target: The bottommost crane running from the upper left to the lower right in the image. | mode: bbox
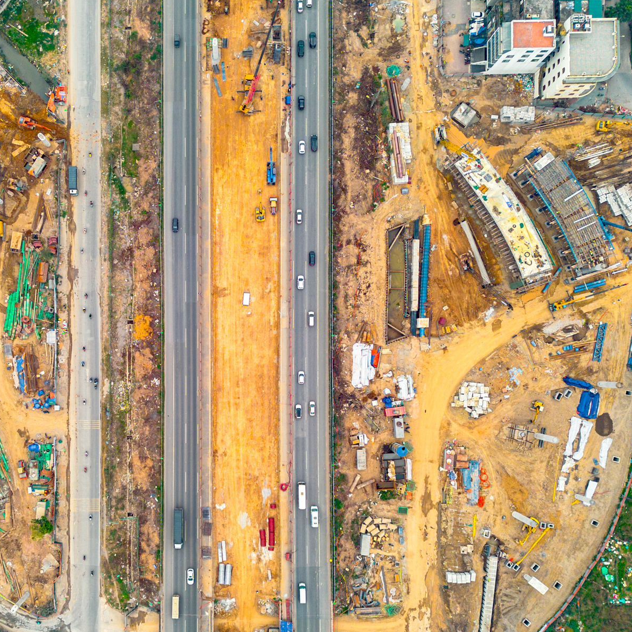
[454,253,514,311]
